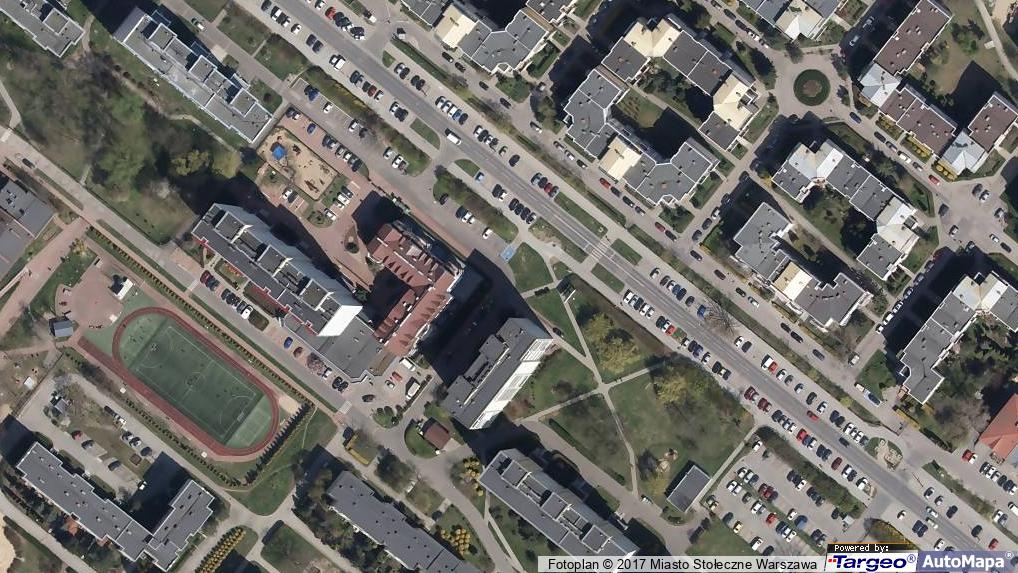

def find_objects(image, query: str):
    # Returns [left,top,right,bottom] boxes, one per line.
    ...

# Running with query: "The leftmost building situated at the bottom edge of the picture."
[16,440,223,571]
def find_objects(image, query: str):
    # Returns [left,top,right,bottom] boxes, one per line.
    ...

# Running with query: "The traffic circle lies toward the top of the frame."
[793,69,829,105]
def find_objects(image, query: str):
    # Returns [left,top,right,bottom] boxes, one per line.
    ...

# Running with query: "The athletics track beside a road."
[76,307,280,457]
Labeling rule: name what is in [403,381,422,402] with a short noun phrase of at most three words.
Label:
vehicle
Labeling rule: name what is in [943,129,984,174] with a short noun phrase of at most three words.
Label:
building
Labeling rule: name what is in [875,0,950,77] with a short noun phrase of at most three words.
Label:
building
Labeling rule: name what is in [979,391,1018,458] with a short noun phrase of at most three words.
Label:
house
